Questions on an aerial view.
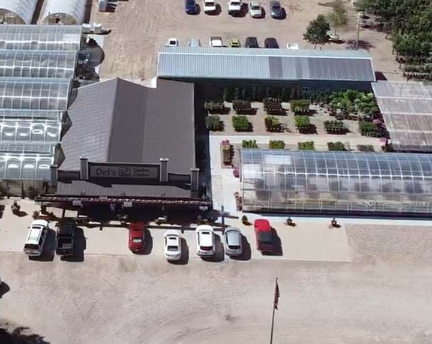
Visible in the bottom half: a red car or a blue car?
red car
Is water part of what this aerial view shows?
No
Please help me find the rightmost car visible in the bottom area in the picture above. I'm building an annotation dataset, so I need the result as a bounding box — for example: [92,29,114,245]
[253,216,274,248]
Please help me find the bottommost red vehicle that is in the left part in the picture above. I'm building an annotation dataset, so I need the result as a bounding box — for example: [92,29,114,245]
[126,218,147,252]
